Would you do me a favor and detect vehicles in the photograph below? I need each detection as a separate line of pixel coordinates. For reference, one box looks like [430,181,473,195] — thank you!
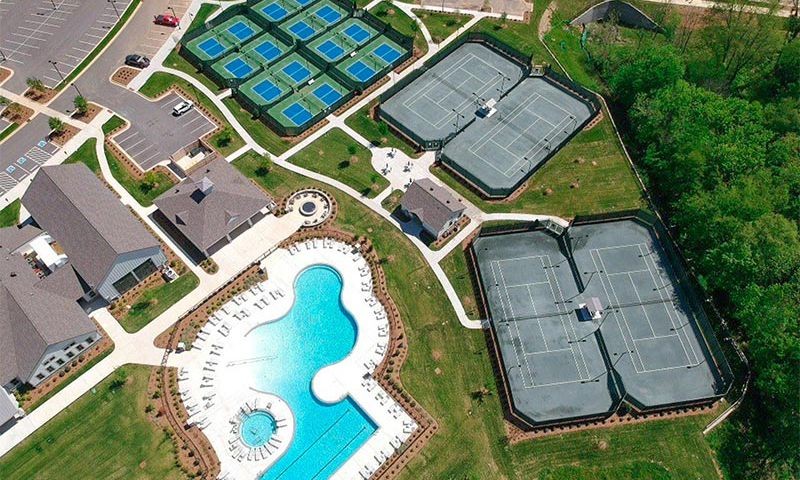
[125,55,148,66]
[153,13,178,24]
[170,99,194,114]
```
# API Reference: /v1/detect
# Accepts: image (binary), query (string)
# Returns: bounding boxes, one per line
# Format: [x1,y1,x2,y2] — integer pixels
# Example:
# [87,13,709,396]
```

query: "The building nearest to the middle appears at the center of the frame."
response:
[399,178,466,238]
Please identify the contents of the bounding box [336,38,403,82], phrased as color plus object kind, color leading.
green sports court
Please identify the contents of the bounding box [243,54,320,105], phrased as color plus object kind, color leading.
green sports court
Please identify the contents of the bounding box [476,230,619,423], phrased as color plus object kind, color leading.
gray tennis court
